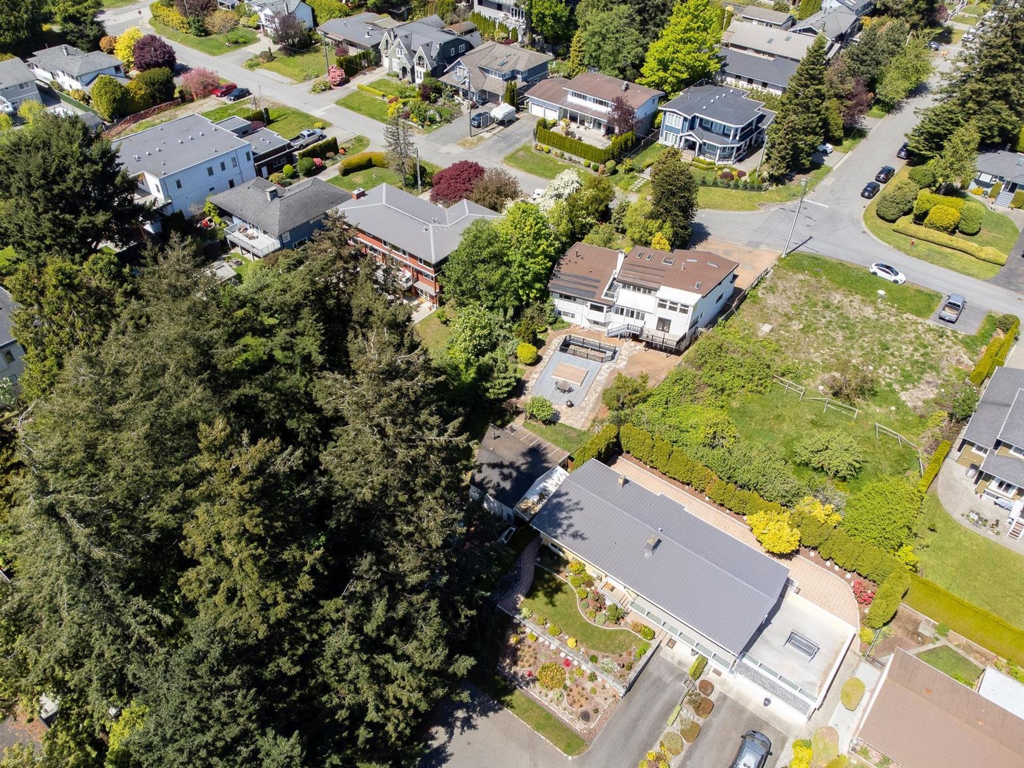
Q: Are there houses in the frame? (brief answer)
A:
Yes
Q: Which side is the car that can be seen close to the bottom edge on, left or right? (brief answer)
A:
right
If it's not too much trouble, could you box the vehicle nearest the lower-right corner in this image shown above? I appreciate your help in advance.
[728,727,770,768]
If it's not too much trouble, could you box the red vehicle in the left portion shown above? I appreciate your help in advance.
[211,80,236,93]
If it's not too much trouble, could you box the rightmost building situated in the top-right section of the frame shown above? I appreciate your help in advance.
[970,147,1024,209]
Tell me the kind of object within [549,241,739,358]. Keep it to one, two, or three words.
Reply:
house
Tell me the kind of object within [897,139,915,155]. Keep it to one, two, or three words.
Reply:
car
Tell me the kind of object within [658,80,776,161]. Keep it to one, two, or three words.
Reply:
house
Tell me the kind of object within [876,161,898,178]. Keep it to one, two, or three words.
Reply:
car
